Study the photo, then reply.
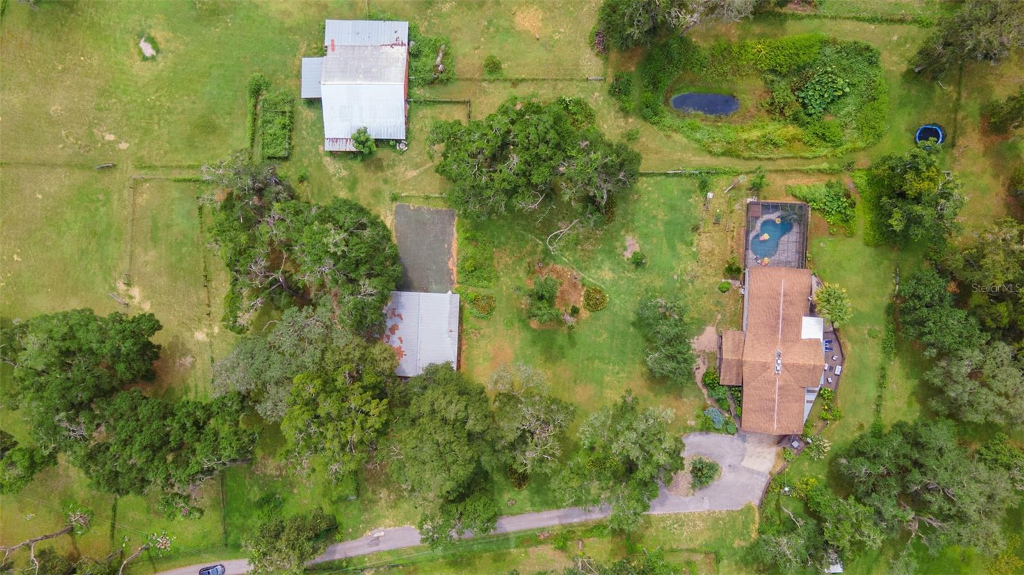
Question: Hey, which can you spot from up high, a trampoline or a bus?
trampoline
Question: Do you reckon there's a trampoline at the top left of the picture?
No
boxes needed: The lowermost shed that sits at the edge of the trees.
[821,548,843,573]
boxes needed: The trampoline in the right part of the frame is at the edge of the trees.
[913,119,950,147]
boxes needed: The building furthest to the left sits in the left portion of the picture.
[301,20,410,152]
